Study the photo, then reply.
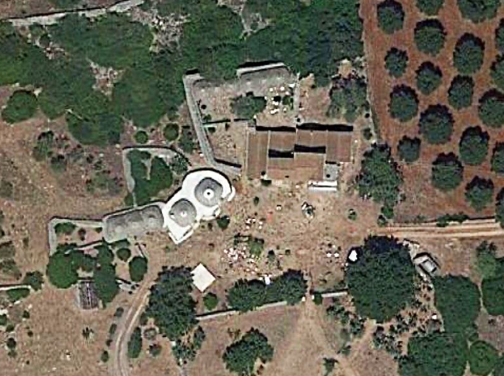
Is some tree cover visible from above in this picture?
Yes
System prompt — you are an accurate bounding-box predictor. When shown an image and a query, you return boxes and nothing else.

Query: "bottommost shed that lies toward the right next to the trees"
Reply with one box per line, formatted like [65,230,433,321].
[414,256,439,281]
